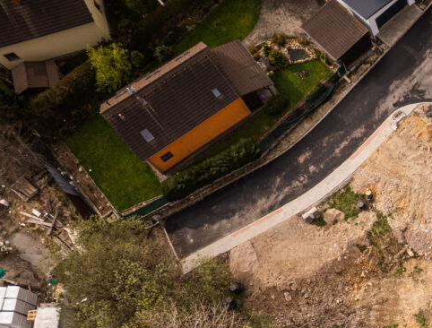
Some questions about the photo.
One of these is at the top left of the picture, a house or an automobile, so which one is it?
house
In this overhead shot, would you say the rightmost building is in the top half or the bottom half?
top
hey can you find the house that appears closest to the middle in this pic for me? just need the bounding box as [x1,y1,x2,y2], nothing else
[101,30,275,181]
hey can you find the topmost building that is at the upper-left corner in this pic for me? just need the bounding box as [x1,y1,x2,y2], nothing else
[0,0,117,68]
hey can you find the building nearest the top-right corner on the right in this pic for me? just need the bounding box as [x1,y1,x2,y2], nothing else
[350,0,419,35]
